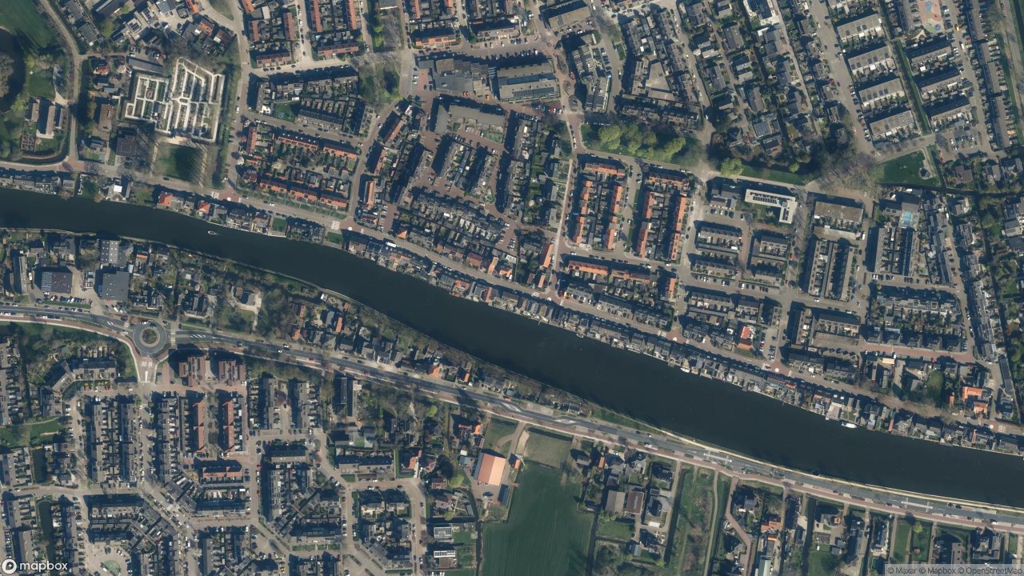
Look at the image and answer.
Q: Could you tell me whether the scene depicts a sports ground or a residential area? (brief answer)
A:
residential area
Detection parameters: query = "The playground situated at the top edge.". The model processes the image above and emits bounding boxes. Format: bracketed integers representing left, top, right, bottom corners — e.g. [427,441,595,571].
[918,0,944,33]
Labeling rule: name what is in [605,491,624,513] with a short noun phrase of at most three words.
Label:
barn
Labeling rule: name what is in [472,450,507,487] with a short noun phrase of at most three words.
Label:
barn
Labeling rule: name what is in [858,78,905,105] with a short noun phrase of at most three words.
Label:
building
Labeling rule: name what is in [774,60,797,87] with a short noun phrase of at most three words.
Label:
house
